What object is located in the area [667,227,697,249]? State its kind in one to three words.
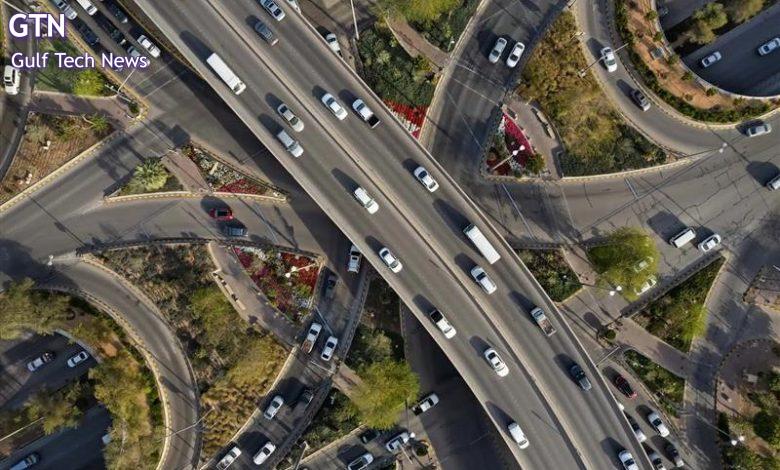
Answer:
vehicle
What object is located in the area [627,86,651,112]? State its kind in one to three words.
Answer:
car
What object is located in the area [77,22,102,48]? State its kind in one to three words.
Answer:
car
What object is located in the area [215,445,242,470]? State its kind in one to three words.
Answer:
truck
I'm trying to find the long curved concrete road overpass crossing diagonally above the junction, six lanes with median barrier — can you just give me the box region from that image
[133,0,654,470]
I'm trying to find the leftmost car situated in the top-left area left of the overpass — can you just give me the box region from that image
[2,66,22,94]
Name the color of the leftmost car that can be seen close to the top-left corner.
white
